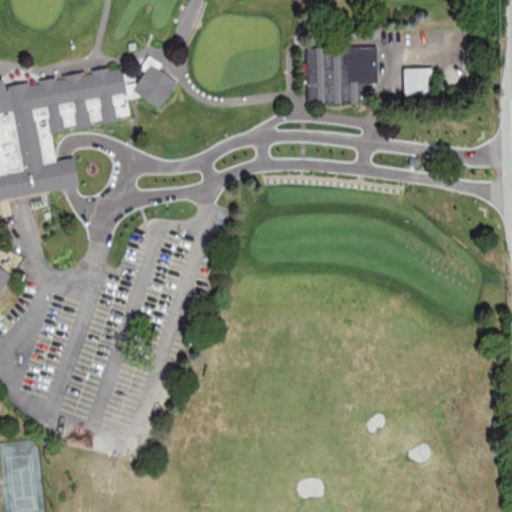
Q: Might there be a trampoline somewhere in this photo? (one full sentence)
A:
No, there's no trampoline here.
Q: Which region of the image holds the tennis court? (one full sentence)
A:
The tennis court sits in the bottom left section of the image.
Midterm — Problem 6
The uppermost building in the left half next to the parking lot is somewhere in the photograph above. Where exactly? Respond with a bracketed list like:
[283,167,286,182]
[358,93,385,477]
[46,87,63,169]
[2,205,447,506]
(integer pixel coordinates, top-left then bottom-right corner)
[0,68,141,200]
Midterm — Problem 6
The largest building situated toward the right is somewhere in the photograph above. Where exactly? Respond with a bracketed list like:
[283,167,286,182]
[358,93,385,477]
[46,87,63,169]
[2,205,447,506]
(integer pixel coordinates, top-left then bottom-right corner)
[304,48,378,104]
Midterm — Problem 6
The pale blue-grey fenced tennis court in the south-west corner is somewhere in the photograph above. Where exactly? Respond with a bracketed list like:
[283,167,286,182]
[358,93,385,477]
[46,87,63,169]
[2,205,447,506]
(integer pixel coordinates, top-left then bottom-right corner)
[0,441,45,512]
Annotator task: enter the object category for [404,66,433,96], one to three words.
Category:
building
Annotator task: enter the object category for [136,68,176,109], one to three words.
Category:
building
